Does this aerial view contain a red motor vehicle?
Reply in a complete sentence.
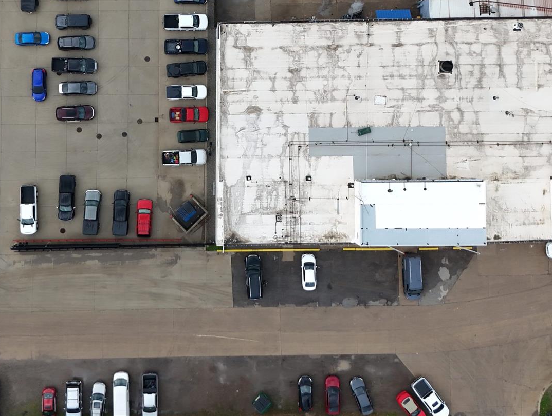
Yes, the picture does show a red motor vehicle.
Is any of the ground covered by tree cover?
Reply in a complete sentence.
No, tree cover can't be seen anywhere here.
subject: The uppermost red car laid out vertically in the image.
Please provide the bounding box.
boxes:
[136,197,154,237]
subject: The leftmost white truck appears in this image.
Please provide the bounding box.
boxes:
[17,183,39,234]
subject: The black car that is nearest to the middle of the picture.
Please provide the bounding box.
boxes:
[244,253,263,300]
